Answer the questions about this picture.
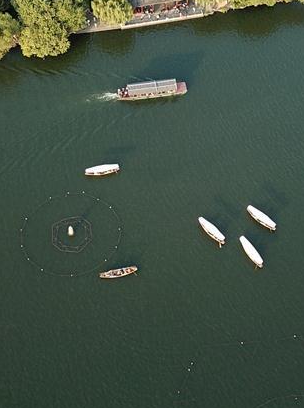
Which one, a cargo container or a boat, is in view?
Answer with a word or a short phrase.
boat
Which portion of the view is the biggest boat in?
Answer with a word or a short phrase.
top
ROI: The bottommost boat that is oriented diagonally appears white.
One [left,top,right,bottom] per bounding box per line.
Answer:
[239,237,264,273]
